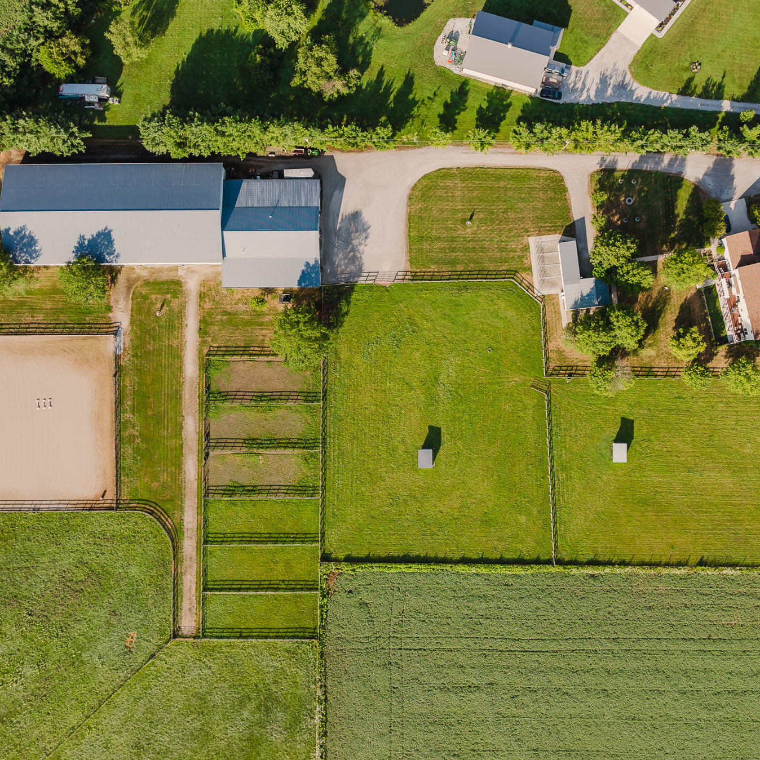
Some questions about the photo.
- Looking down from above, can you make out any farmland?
Yes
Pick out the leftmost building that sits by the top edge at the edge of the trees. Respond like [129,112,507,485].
[461,11,565,96]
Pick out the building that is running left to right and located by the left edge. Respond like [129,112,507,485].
[0,162,227,266]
